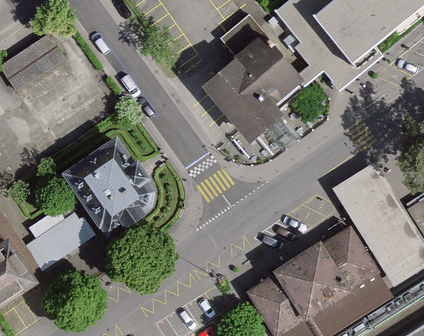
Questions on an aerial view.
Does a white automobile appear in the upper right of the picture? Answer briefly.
Yes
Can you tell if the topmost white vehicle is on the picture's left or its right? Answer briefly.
left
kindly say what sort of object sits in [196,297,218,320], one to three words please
car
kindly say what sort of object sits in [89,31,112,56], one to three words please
vehicle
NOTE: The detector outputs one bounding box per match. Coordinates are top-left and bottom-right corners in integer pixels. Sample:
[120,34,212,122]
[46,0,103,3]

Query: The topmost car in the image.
[111,0,132,18]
